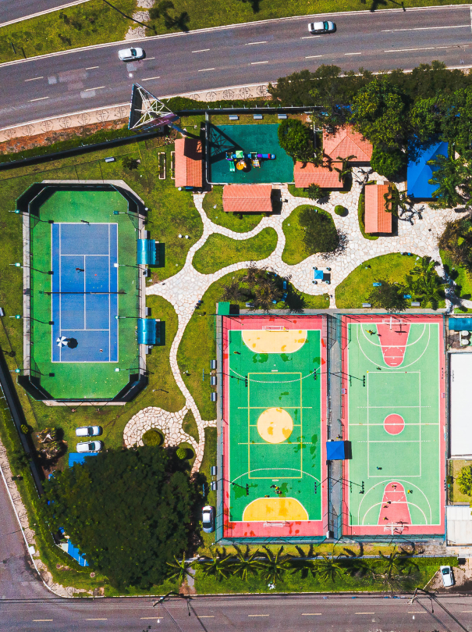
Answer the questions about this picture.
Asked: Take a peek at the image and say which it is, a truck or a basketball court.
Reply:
basketball court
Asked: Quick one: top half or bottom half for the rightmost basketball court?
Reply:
bottom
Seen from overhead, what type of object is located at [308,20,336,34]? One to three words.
car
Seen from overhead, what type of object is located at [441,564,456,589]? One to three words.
car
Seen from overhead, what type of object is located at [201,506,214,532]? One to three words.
vehicle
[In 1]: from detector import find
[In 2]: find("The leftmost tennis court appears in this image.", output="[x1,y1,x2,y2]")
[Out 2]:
[23,179,146,406]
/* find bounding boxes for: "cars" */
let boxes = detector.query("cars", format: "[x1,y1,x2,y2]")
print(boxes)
[76,425,102,437]
[441,564,456,589]
[117,45,146,62]
[75,440,104,453]
[201,506,214,532]
[308,20,336,34]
